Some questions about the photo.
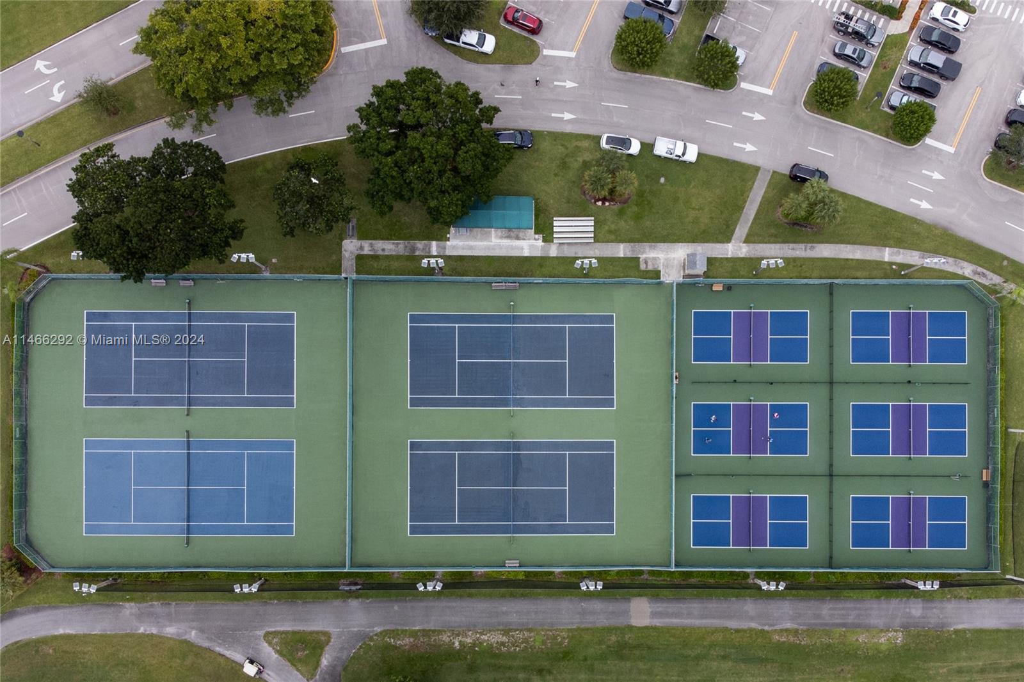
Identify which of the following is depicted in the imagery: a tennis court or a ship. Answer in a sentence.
Of the two, only a tennis court appears.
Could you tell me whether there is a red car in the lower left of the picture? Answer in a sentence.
No, there is no red car in the lower left of the picture.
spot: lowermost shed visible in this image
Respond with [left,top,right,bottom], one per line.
[686,252,710,276]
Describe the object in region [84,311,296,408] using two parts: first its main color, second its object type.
blue tennis court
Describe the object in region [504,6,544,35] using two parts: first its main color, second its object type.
red car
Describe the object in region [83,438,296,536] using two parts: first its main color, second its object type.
blue tennis court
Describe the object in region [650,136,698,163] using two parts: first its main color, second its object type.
white truck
